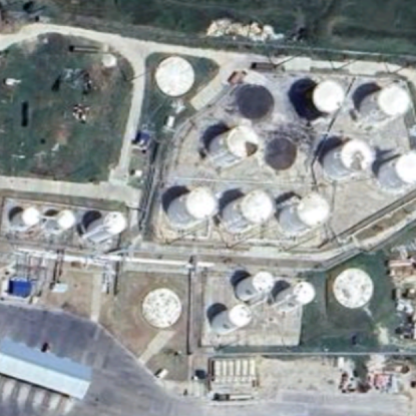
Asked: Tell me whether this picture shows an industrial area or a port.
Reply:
industrial area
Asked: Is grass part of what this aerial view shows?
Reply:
Yes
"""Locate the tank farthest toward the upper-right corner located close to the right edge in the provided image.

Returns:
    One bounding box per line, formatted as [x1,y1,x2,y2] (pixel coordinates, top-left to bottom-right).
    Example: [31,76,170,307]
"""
[358,84,411,132]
